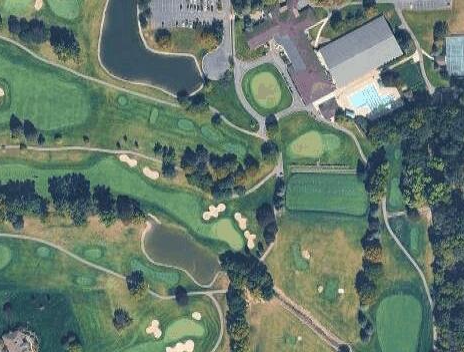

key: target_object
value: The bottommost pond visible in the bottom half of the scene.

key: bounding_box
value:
[144,221,222,286]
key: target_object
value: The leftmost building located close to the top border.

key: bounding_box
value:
[246,0,340,107]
